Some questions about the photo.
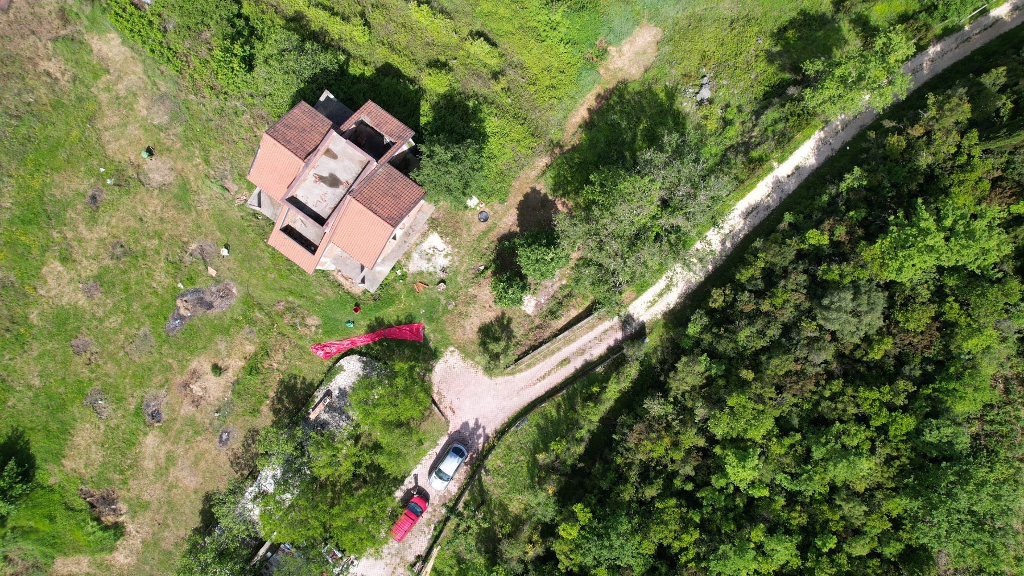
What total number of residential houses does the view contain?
1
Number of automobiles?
2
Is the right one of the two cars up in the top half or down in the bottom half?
bottom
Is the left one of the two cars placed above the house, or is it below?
below it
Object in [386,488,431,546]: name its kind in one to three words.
car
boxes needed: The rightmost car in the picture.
[430,438,471,493]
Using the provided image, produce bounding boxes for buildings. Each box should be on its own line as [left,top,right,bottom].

[233,90,442,294]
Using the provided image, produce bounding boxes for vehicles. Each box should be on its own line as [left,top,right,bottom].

[386,488,431,546]
[430,438,471,493]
